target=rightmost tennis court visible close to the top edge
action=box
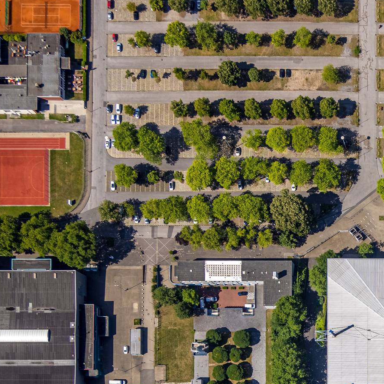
[19,1,73,29]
